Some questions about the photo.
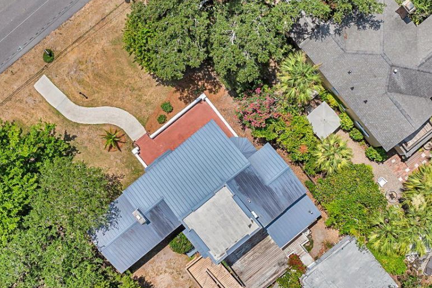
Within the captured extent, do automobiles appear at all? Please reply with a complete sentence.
No, I find no automobile anywhere in the image.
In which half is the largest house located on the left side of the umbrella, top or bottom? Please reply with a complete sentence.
The largest house located on the left side of the umbrella sits in the bottom half of the picture.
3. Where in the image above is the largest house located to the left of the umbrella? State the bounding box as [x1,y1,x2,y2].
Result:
[89,119,321,271]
